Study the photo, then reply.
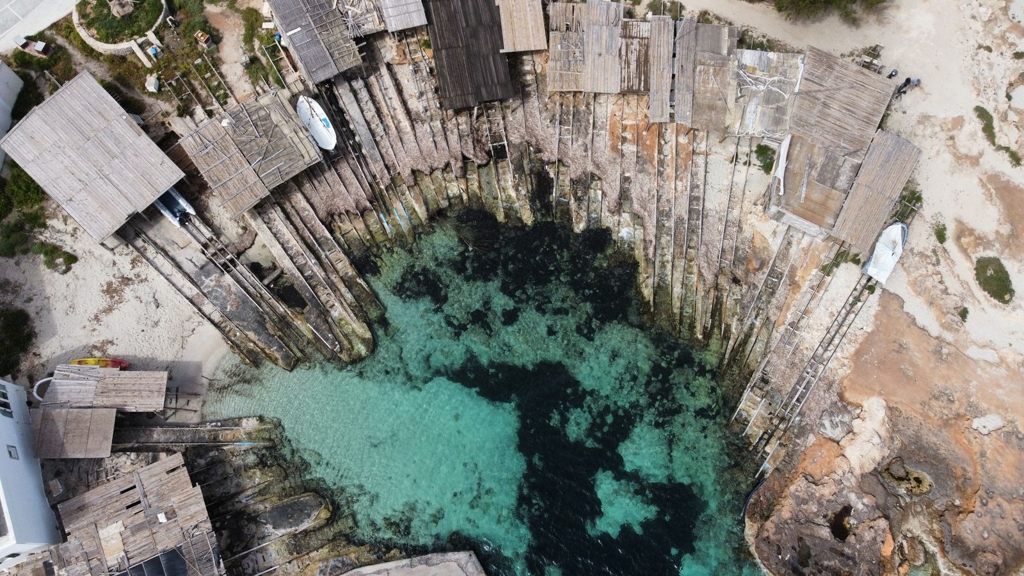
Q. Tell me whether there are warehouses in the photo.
No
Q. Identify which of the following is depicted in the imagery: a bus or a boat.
boat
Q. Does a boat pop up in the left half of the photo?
Yes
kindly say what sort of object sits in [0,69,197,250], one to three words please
shed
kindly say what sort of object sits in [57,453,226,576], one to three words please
shed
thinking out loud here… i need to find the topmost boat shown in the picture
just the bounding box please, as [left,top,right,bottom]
[296,94,341,155]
